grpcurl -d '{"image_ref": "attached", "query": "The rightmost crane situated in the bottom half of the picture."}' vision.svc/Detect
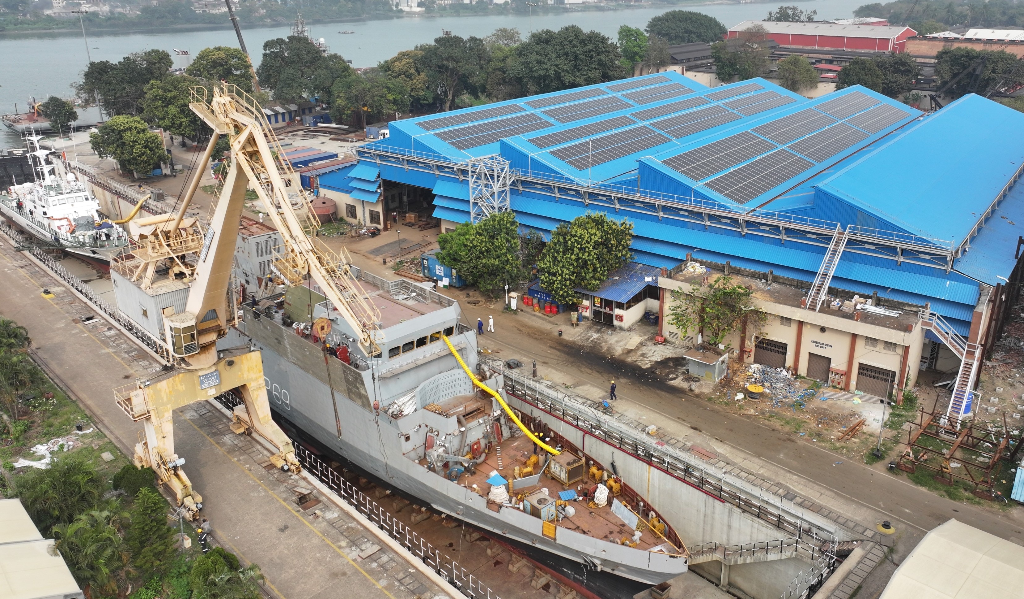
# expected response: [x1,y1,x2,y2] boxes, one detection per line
[433,450,478,478]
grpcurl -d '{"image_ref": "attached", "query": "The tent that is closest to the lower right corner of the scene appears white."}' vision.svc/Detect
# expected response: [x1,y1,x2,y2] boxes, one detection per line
[877,511,1024,599]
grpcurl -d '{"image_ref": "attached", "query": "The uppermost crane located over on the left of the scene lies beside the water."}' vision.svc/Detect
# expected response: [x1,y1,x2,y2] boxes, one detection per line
[224,0,290,137]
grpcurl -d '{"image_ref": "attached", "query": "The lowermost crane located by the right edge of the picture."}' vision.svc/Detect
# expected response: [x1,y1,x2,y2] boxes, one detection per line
[938,34,1024,97]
